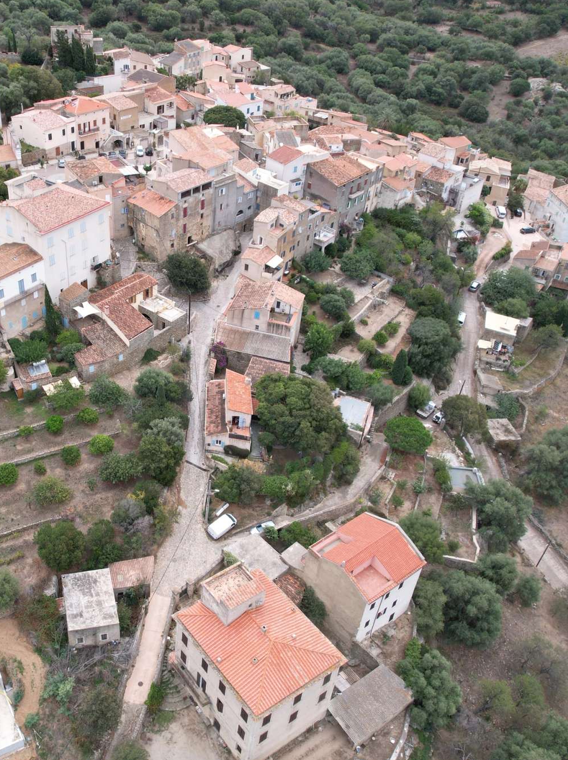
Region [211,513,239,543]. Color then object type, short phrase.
white van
